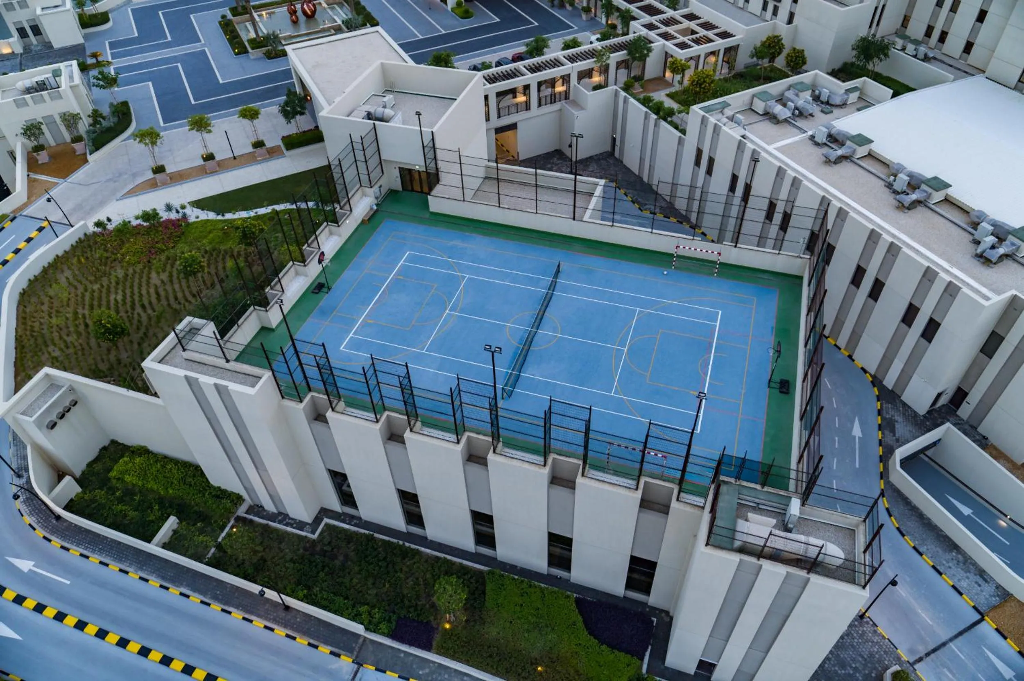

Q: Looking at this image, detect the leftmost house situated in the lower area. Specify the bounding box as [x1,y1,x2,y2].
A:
[20,381,113,484]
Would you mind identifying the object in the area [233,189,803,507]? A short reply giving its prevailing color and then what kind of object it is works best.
blue sports court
